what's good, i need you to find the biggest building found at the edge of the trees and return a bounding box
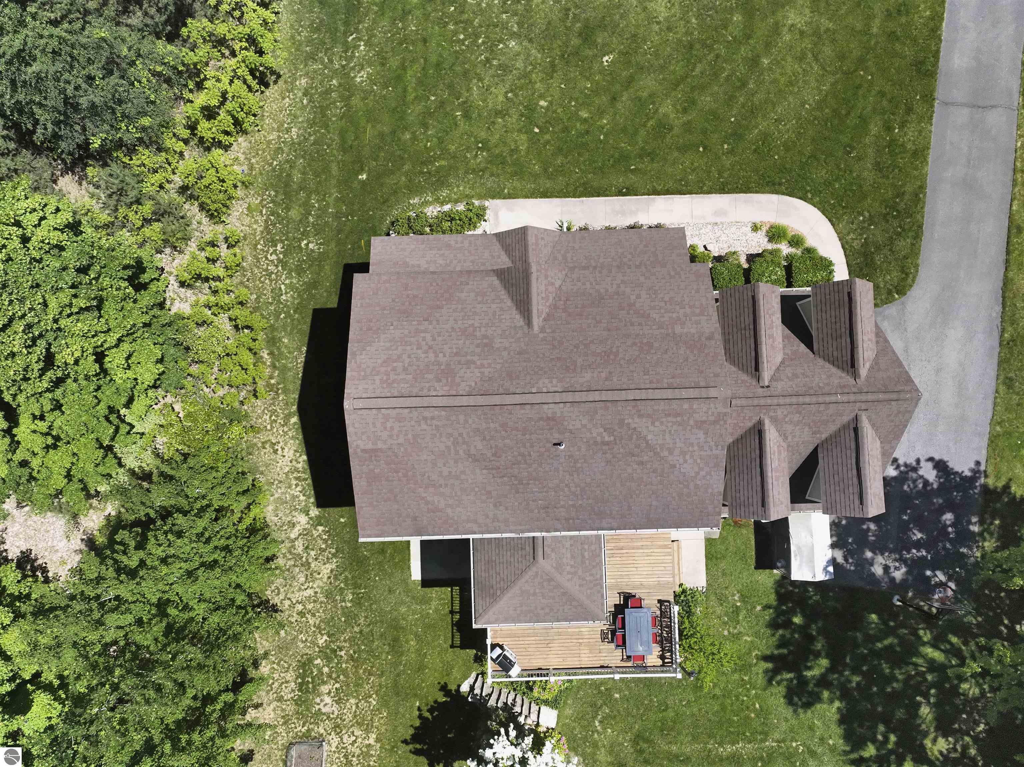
[345,219,922,629]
